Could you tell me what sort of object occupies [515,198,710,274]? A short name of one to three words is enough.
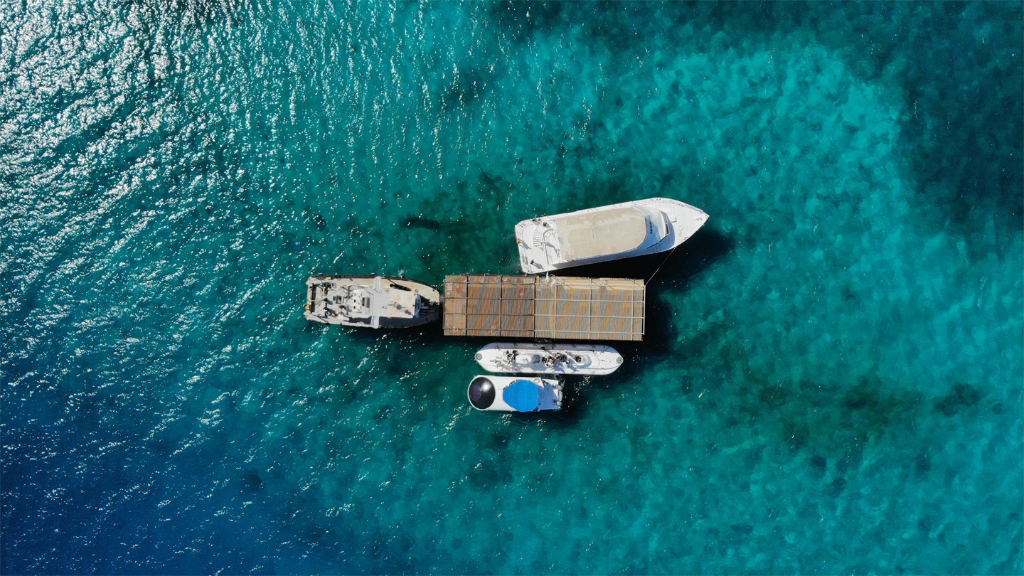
boat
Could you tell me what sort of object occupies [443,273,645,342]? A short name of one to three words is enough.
ship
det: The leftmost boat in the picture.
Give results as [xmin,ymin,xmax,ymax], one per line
[304,272,443,329]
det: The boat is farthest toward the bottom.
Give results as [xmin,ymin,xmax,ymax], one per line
[468,375,563,412]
